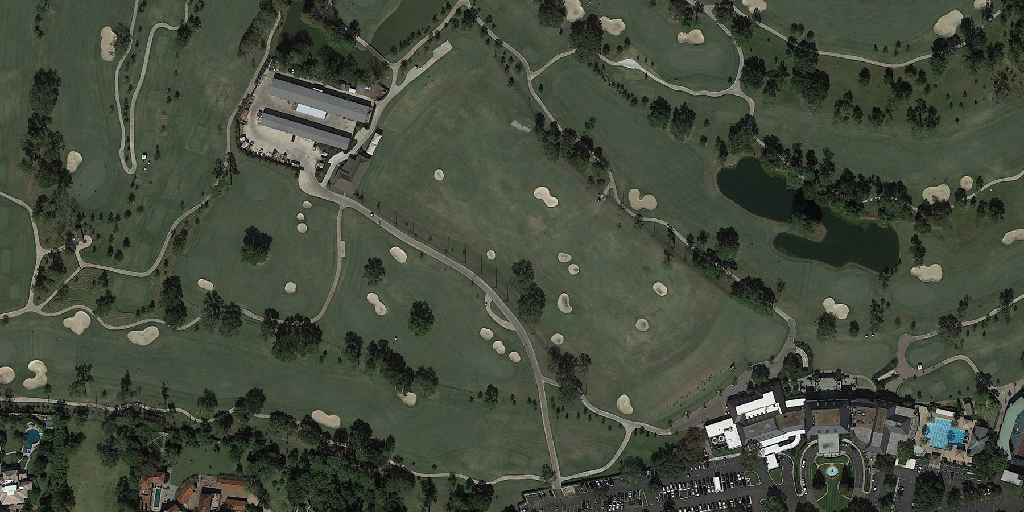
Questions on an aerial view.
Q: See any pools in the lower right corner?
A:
Yes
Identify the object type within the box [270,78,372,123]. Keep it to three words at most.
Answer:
shed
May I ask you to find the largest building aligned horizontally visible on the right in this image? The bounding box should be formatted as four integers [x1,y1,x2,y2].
[705,380,917,469]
